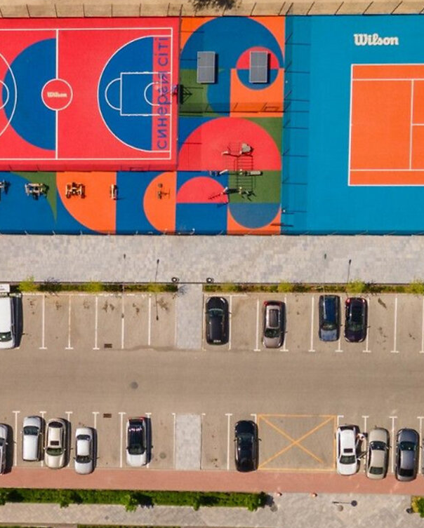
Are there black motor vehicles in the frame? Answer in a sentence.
Yes, there's a black motor vehicle here.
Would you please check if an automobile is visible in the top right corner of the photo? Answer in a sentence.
No, I can find no automobile in the top right corner of the photo.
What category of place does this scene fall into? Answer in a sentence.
The picture captures a sports ground.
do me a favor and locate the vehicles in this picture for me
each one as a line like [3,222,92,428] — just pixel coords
[335,426,366,474]
[343,297,368,343]
[234,421,259,471]
[0,283,18,347]
[203,296,230,346]
[72,427,95,473]
[0,424,9,473]
[20,416,43,461]
[44,420,69,468]
[125,418,148,466]
[394,429,420,480]
[262,299,286,348]
[317,295,341,342]
[365,429,390,479]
